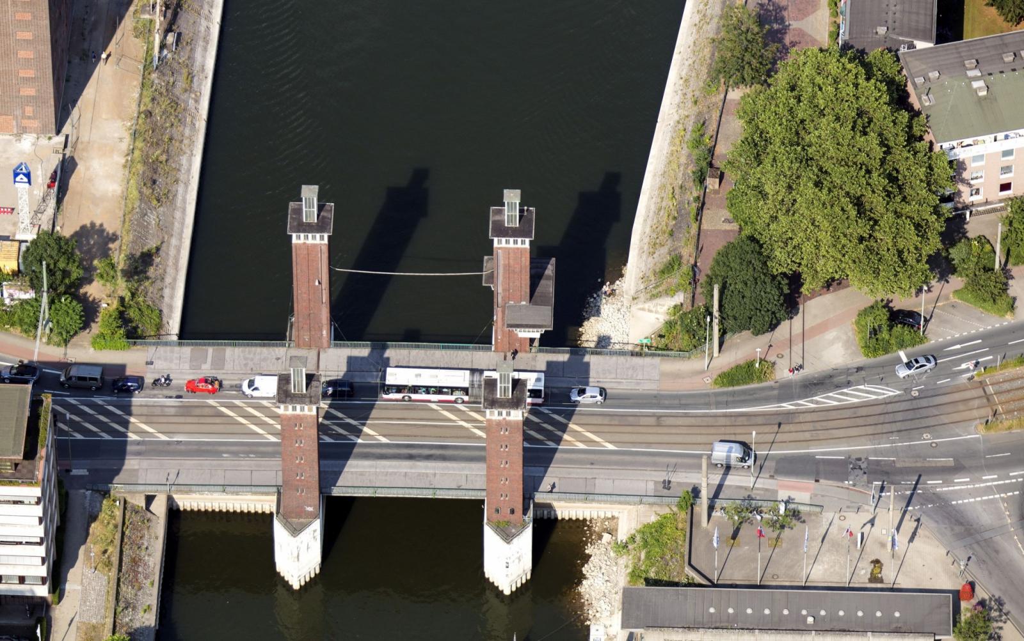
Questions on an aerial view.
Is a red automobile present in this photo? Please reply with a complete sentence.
Yes, the image includes a red automobile.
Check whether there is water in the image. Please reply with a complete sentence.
Yes, there's water in this view.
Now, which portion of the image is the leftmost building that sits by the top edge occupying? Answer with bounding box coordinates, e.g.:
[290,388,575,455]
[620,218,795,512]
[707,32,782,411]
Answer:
[0,0,72,134]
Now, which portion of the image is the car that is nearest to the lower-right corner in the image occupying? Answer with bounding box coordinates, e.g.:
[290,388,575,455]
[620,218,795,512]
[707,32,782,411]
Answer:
[895,353,938,379]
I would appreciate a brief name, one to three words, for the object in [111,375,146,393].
car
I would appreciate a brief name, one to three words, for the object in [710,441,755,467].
vehicle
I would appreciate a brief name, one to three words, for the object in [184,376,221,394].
car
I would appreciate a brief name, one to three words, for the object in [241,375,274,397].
vehicle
